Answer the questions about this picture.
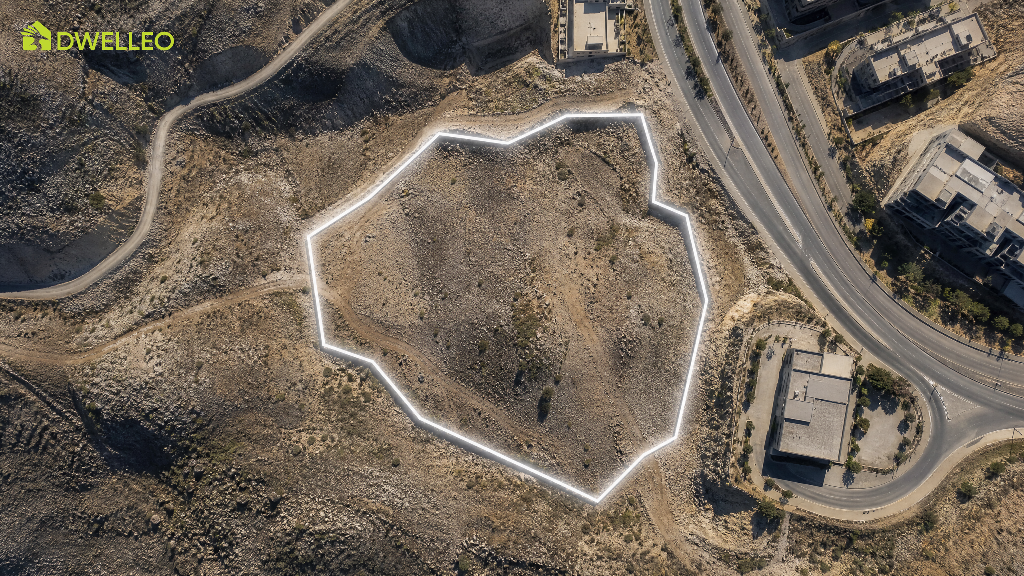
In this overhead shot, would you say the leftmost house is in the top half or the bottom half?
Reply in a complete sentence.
The top half of the photo is where the leftmost house is.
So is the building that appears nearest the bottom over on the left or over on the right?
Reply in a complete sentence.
You can find the building that appears nearest the bottom on the right side of the picture.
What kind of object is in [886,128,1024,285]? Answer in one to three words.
building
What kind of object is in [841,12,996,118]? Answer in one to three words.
building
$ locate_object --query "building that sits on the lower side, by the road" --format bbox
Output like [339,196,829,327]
[769,349,852,469]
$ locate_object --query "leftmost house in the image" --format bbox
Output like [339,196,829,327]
[559,0,626,62]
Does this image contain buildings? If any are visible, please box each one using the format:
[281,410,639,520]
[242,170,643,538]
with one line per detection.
[769,349,852,469]
[559,0,626,62]
[886,128,1024,285]
[768,0,905,46]
[841,12,996,118]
